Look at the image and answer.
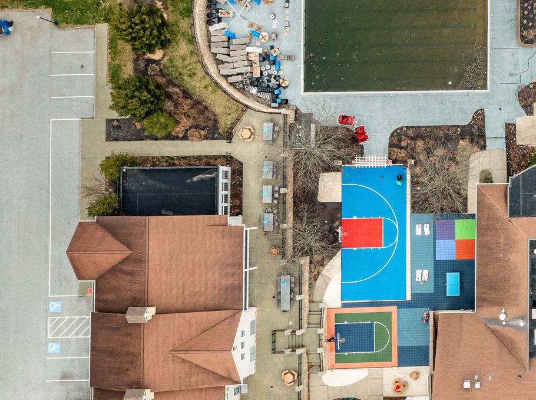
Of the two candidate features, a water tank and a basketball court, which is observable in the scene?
basketball court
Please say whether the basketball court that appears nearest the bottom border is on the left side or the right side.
right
